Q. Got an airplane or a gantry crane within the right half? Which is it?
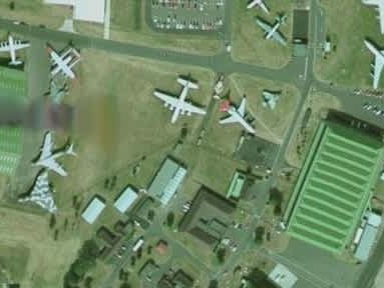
airplane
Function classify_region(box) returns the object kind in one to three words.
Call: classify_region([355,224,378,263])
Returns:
building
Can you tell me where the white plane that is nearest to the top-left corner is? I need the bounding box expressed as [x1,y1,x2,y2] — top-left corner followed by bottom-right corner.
[0,37,31,66]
